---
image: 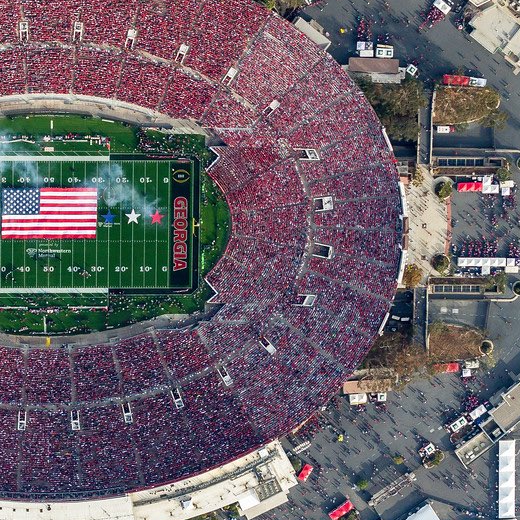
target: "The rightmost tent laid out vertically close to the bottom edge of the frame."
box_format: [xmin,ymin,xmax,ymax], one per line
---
[498,439,514,518]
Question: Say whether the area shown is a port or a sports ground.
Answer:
sports ground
